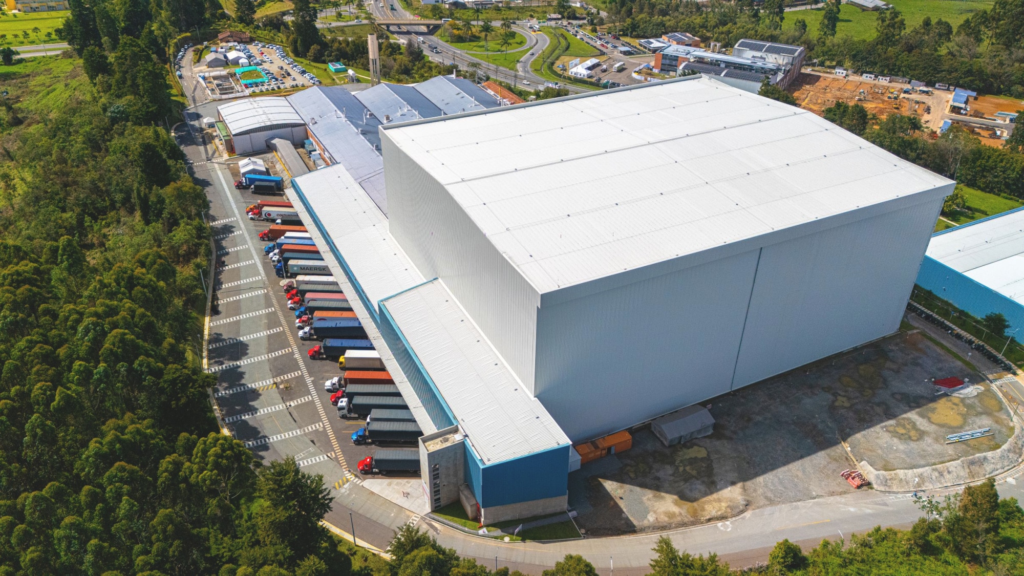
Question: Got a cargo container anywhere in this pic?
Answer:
Yes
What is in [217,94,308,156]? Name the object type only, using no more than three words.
building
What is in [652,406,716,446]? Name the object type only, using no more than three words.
tent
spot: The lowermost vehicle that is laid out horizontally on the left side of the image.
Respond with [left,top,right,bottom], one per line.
[353,450,422,474]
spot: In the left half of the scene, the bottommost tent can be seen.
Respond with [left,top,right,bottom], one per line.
[234,156,269,179]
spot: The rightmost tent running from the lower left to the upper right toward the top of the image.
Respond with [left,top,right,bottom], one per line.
[572,58,606,80]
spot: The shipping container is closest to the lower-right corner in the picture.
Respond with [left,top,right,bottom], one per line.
[578,431,633,463]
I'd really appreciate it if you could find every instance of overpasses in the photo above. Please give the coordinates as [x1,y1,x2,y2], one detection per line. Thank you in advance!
[371,17,447,35]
